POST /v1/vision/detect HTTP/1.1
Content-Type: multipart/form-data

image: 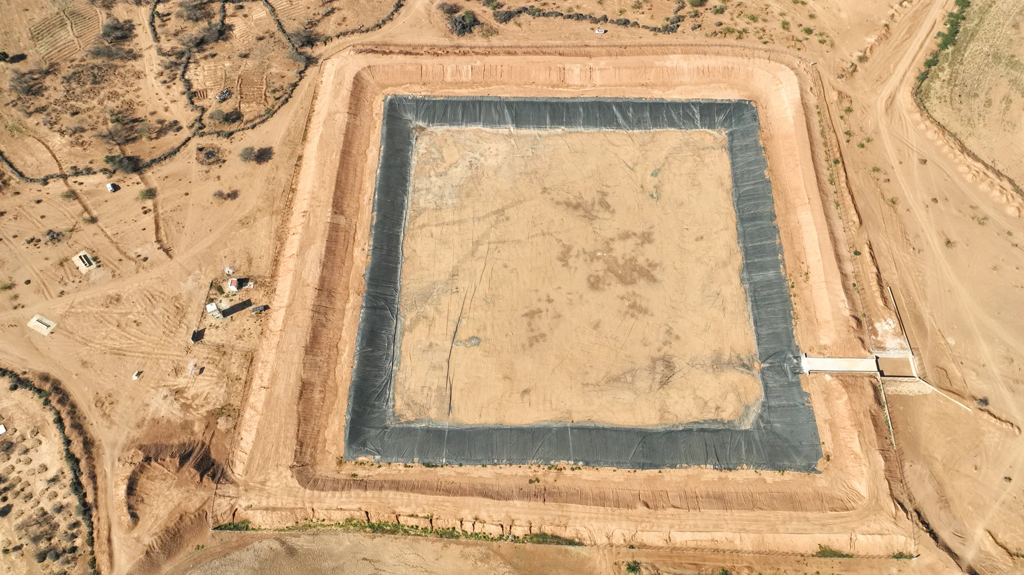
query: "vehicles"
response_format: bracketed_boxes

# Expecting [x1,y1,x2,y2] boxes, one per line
[107,183,114,192]
[596,28,605,33]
